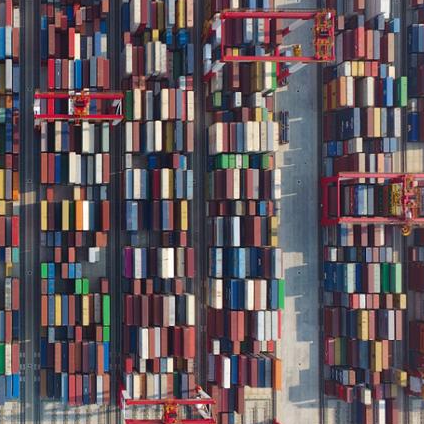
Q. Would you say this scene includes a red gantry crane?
Yes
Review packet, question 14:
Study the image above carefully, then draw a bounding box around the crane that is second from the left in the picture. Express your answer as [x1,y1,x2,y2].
[116,378,216,424]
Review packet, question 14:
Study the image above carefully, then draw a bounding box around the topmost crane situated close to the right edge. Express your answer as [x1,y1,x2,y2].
[312,169,424,237]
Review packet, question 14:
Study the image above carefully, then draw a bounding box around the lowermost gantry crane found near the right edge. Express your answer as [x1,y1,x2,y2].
[394,366,424,424]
